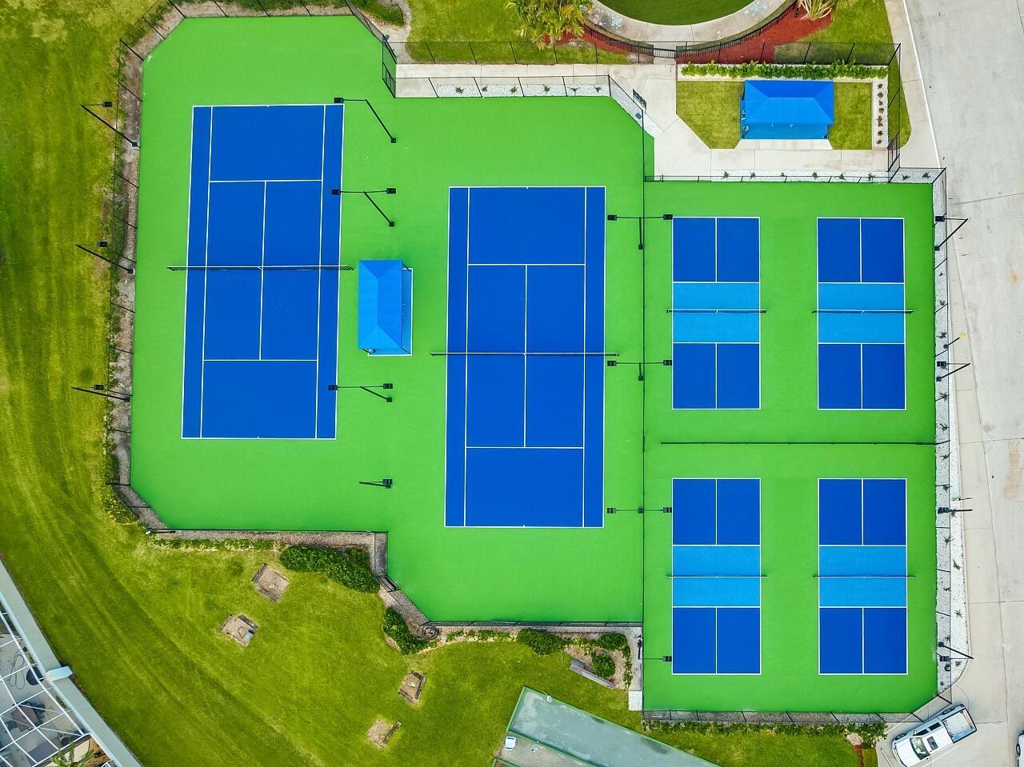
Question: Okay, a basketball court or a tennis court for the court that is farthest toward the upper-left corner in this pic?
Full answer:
It turns out the court that is farthest toward the upper-left corner is a tennis court.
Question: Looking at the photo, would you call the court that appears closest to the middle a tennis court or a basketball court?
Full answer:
From above, the court that appears closest to the middle can be identified as a tennis court.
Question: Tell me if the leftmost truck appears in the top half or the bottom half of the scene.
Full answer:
Seen from above, the leftmost truck lies in the bottom half of the view.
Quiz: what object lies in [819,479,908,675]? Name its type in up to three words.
sports court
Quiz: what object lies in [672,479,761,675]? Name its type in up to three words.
sports court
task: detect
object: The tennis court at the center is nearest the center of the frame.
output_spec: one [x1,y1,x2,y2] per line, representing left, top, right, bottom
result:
[445,187,606,528]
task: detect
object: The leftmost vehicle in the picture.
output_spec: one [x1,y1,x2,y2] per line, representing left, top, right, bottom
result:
[889,704,979,767]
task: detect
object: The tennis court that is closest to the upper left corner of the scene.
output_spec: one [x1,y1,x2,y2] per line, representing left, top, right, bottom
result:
[182,104,343,439]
